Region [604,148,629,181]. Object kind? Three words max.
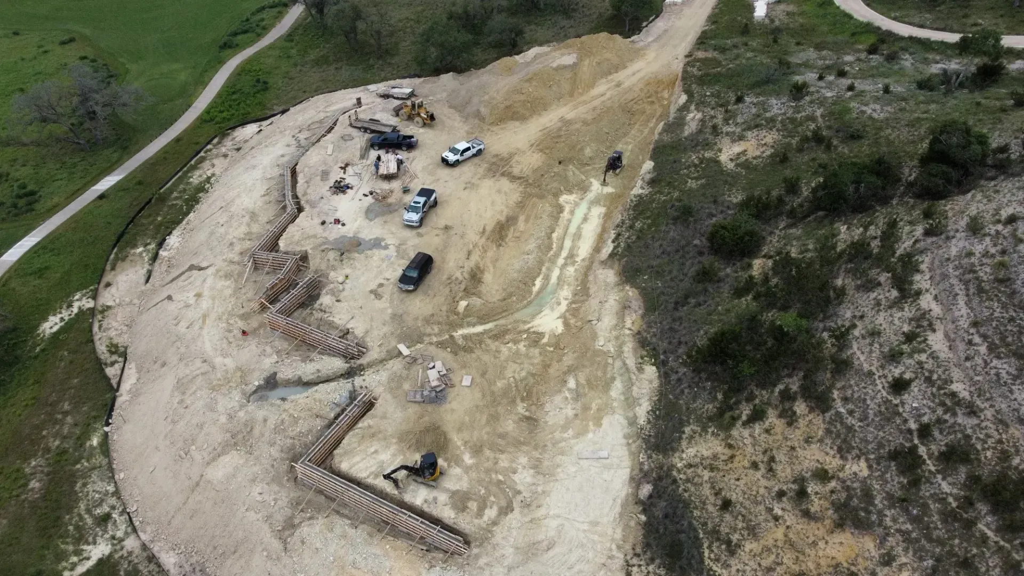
work vehicle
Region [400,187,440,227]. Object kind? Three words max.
truck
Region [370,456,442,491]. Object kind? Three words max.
work vehicle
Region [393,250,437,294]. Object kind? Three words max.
car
